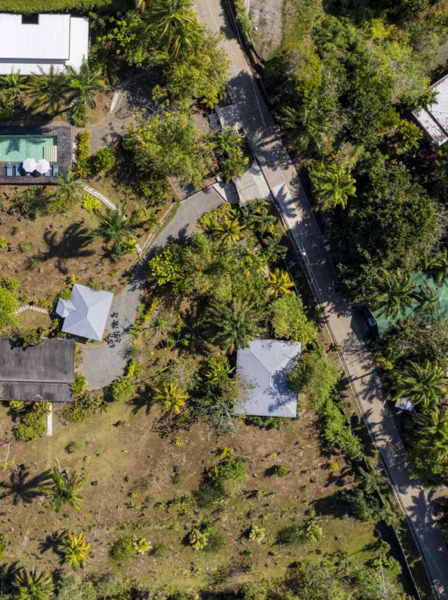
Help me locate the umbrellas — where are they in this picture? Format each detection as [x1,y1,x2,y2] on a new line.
[37,159,50,173]
[21,157,37,174]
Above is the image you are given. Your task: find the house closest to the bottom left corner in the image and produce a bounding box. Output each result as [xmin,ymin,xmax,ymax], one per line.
[0,338,76,403]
